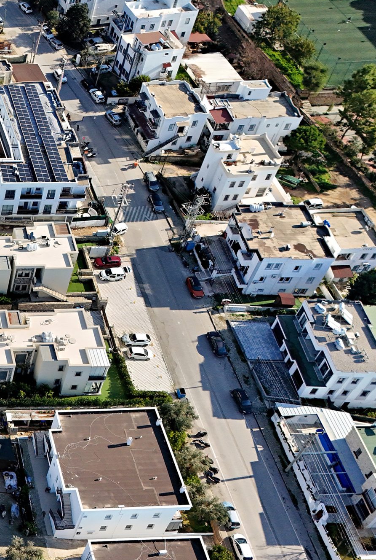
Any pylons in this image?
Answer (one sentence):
Yes, I can see a pylon in this picture.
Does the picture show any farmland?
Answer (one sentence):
No, no farmland is visible.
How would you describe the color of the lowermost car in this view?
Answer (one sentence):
In this view, the lowermost car is white.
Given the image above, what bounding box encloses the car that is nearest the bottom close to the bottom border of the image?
[226,532,255,560]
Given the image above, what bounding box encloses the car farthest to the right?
[297,195,329,210]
